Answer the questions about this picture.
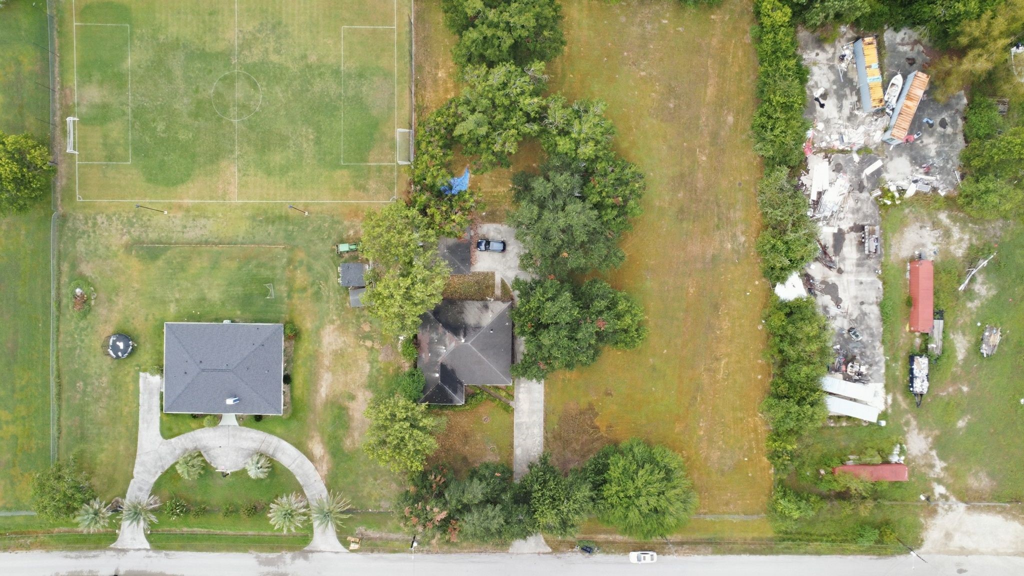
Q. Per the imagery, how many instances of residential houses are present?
two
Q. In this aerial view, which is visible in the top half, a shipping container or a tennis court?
shipping container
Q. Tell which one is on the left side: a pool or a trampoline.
trampoline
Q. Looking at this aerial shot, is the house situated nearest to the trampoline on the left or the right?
left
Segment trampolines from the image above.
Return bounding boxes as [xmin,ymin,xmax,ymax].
[101,333,133,360]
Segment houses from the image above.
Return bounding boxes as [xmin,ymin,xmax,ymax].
[163,322,285,415]
[417,301,512,404]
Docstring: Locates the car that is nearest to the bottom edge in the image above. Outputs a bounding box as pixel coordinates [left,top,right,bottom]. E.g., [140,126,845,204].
[629,551,656,565]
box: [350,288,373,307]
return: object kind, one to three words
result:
shed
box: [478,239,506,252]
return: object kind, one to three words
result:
vehicle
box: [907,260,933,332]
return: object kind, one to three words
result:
shed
